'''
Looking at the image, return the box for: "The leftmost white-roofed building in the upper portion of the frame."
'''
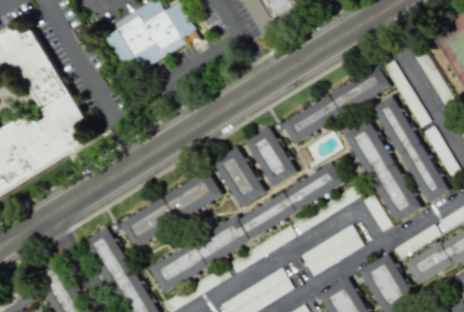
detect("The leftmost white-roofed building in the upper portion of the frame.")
[0,29,91,196]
